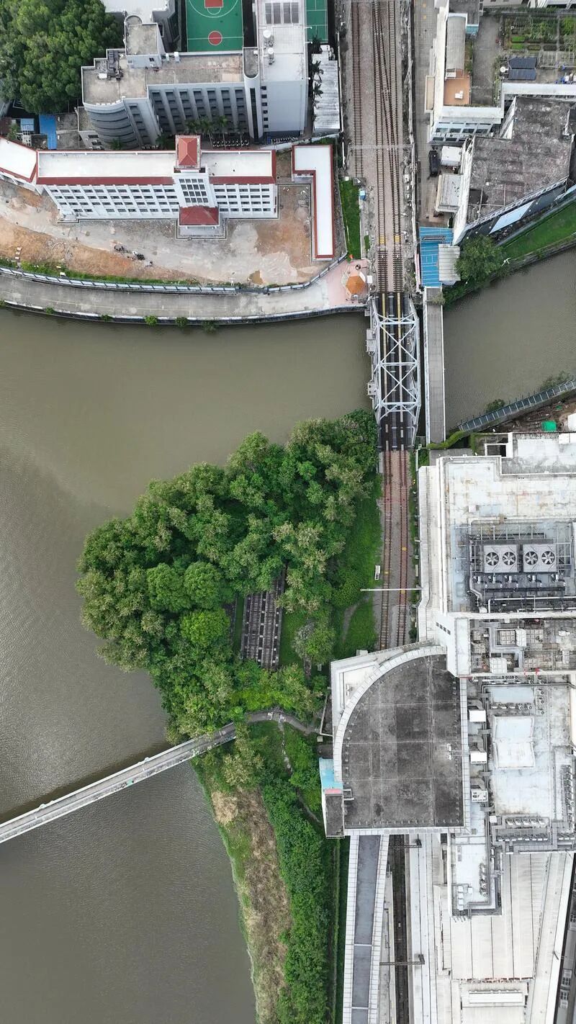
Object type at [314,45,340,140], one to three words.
shed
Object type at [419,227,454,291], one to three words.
shed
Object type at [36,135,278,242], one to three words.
building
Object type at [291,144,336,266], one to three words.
building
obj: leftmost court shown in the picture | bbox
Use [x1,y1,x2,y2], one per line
[186,0,243,52]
